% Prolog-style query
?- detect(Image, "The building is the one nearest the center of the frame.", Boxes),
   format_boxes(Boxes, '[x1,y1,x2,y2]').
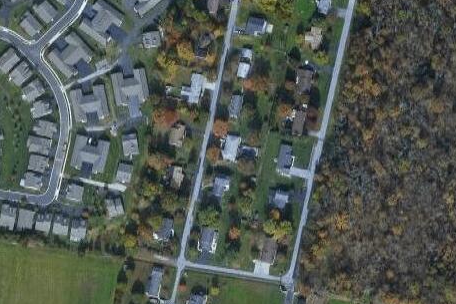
[222,135,241,160]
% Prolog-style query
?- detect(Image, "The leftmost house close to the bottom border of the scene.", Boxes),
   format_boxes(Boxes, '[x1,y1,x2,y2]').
[145,267,164,296]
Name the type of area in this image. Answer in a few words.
residential area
